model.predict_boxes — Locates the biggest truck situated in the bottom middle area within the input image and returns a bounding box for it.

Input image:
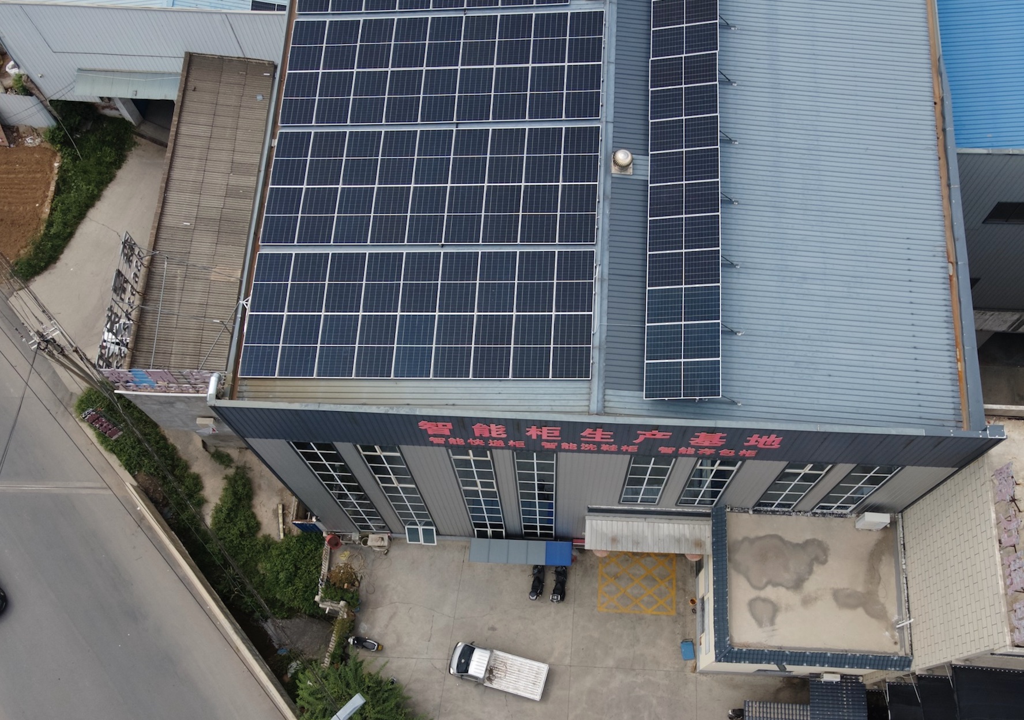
[447,637,550,703]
